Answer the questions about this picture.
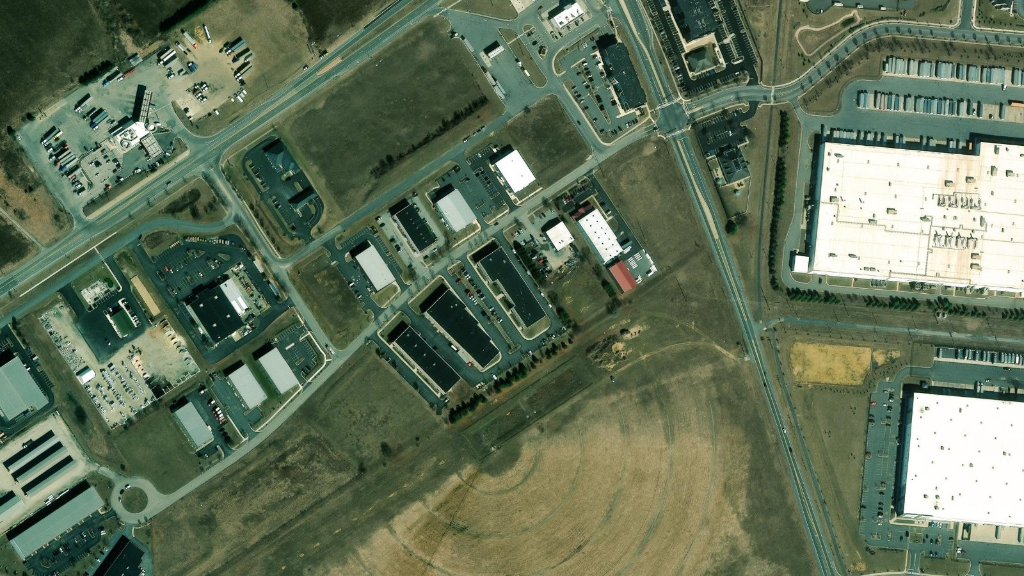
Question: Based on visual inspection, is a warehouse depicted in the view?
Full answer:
Yes, you can see a warehouse in this photo.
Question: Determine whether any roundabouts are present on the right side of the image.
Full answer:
No, I can find no roundabout on the right side of the image.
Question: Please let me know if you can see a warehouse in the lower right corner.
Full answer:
Yes, a warehouse can be seen in the lower right corner.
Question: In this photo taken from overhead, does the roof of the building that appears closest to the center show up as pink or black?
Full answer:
The color of the roof of the building that appears closest to the center is black.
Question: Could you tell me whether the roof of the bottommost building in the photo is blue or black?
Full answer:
In this view, the roof of the bottommost building is black.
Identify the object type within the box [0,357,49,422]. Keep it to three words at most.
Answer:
building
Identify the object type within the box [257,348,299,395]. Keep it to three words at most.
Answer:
building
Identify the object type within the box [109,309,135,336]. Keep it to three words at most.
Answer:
shed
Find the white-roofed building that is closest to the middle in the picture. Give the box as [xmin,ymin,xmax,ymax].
[544,221,574,252]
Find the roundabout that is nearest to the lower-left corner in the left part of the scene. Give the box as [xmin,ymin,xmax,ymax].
[111,476,158,523]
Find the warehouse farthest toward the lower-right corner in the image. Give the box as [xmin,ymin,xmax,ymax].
[899,392,1024,527]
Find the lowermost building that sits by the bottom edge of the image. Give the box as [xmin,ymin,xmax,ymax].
[103,542,145,576]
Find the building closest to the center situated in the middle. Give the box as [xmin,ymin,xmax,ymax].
[476,247,547,330]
